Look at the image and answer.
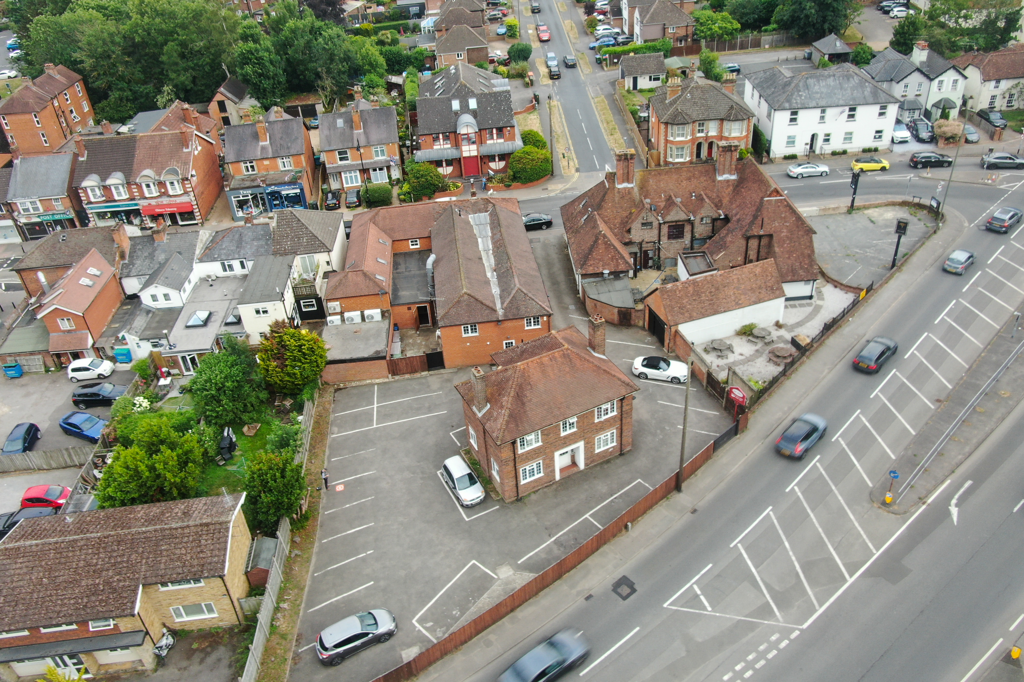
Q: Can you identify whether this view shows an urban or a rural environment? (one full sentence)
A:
This place is urban.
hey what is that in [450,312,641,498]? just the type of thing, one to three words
house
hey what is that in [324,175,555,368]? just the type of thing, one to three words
building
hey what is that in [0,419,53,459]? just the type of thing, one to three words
car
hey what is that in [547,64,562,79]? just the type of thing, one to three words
car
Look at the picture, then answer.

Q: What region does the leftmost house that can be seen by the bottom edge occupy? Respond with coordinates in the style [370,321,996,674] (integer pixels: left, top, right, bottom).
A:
[0,493,255,675]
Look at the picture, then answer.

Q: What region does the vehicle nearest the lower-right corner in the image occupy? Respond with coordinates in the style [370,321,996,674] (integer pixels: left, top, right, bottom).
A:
[781,415,829,459]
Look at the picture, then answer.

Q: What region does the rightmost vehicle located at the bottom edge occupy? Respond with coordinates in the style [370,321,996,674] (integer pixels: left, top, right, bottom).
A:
[505,632,593,682]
